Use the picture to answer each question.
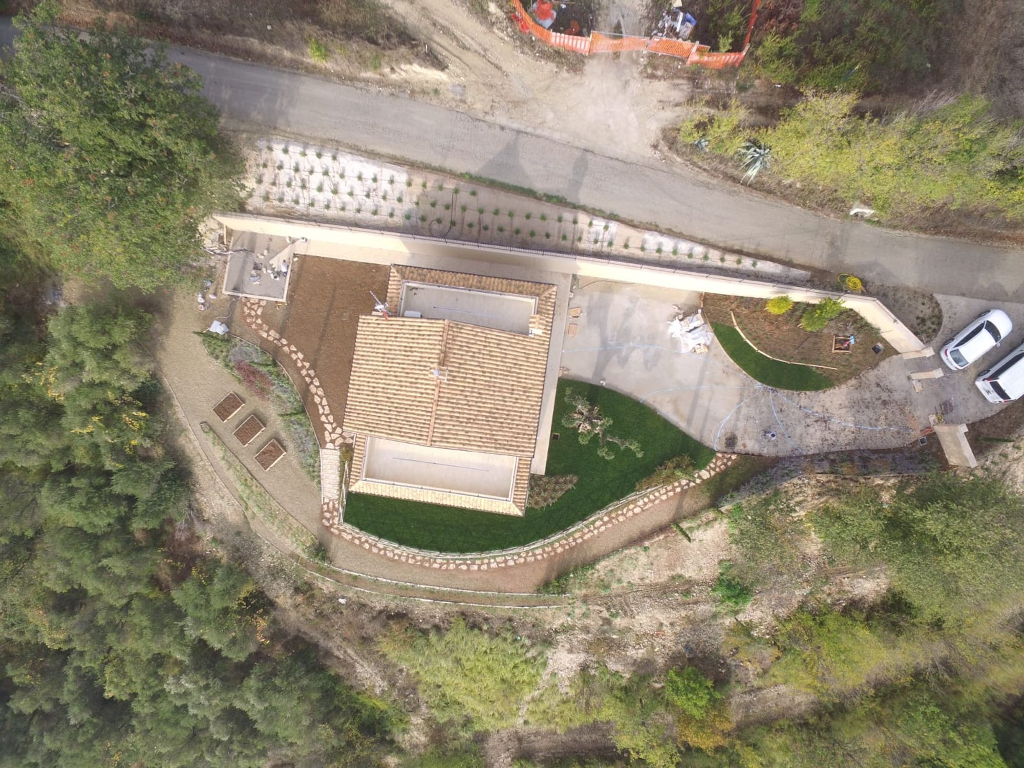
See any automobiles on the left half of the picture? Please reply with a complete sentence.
No, no automobile appears on the left half of the picture.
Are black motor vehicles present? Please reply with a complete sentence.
No, there's no black motor vehicle here.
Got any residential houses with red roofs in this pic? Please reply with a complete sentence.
No, there isn't any residential house with a red roof down there.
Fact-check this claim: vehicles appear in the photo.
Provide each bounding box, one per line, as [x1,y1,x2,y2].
[943,309,1008,374]
[977,339,1024,406]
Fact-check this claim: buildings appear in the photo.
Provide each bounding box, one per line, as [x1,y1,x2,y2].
[341,263,558,517]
